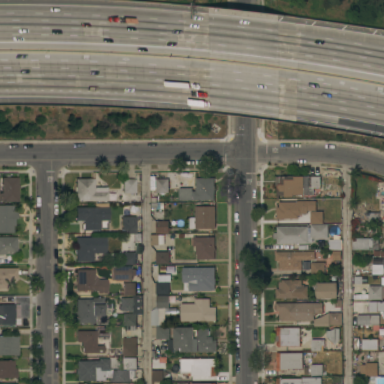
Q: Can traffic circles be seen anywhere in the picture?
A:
No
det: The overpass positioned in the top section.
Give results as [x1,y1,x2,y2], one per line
[209,6,278,120]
